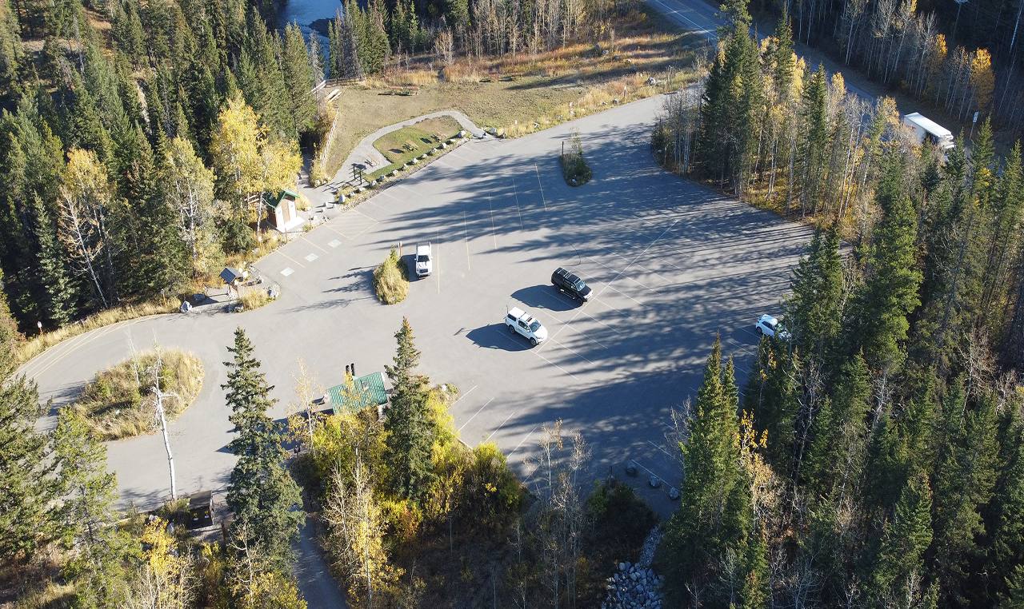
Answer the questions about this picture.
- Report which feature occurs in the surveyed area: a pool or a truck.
truck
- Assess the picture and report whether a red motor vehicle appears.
No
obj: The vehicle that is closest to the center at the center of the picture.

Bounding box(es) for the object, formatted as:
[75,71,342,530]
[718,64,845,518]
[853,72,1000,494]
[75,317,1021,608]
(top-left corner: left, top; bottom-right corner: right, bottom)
[505,310,551,345]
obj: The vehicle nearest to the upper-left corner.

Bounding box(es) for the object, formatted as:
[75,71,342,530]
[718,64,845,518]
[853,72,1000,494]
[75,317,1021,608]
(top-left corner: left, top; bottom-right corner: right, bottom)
[413,245,432,273]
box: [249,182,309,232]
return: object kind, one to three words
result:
shed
